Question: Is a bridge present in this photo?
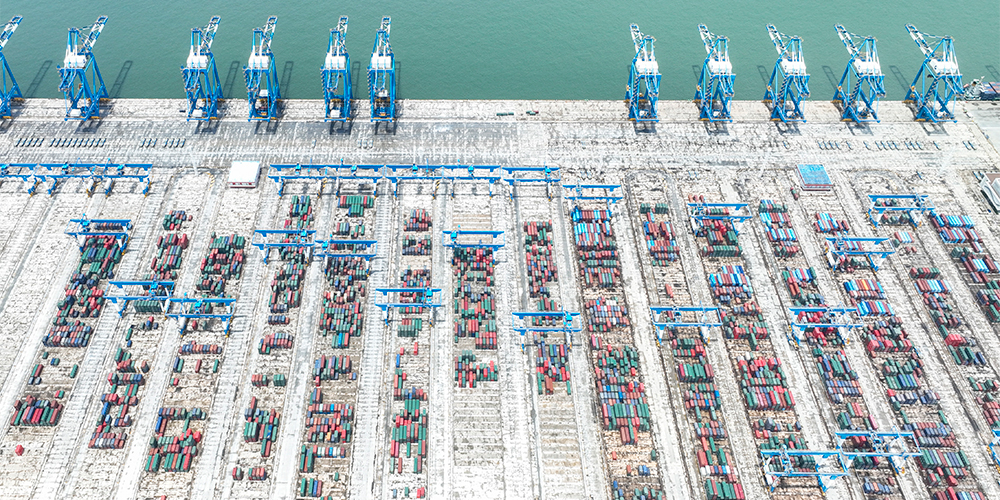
No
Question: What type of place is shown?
port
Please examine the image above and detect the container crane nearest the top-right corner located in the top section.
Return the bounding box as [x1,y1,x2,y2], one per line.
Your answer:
[902,25,967,121]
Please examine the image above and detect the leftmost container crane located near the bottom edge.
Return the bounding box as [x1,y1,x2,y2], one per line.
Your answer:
[760,445,846,497]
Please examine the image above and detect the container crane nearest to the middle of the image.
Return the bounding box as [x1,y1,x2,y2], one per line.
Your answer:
[442,225,504,267]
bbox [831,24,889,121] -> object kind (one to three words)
container crane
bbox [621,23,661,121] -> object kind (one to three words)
container crane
